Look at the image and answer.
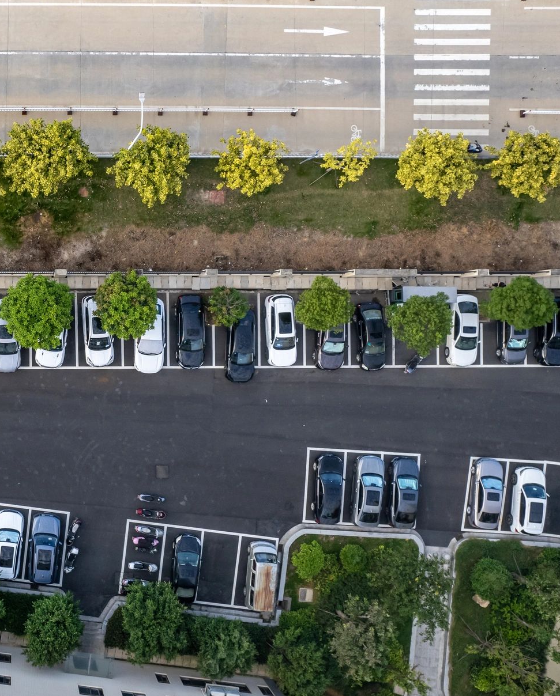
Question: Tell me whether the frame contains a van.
Yes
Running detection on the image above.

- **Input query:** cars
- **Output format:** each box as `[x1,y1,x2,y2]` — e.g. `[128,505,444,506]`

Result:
[263,294,302,368]
[351,454,390,528]
[224,309,260,383]
[81,295,118,368]
[33,316,67,369]
[314,319,351,370]
[507,466,553,535]
[466,456,509,530]
[0,509,26,581]
[310,452,349,525]
[387,456,426,529]
[29,511,64,585]
[176,294,210,370]
[0,324,24,374]
[134,298,167,374]
[352,302,392,371]
[533,296,560,367]
[494,302,535,365]
[170,532,205,603]
[444,295,484,368]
